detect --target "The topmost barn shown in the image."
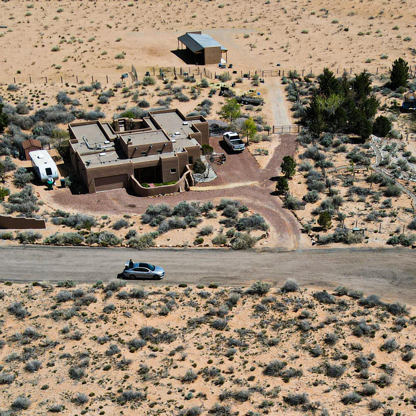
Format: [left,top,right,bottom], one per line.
[177,28,228,65]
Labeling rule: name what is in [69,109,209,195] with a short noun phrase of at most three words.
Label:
house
